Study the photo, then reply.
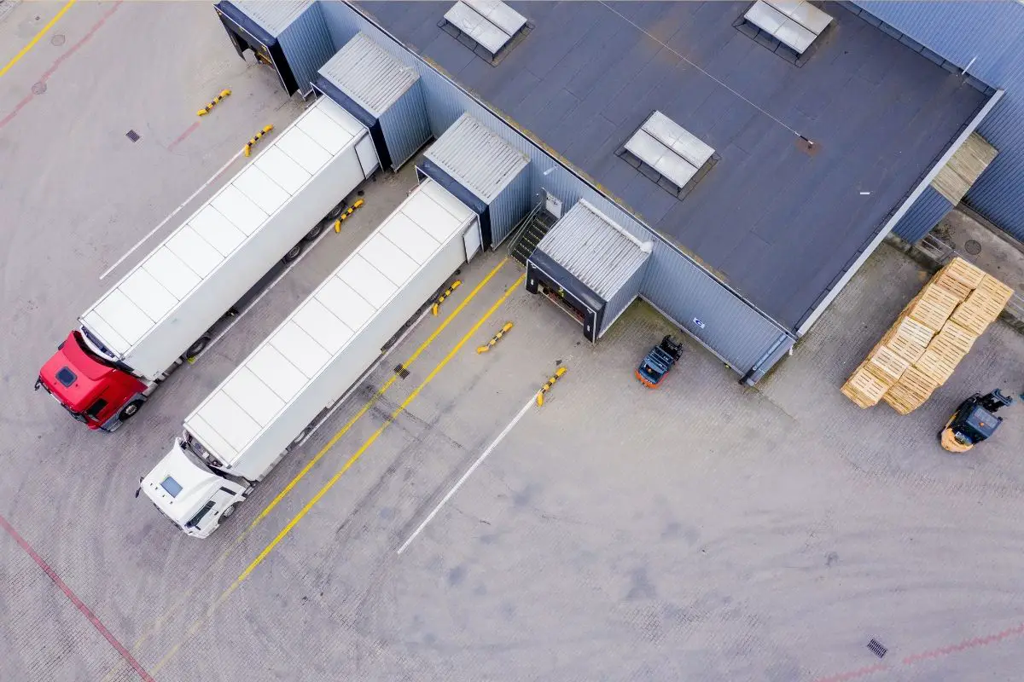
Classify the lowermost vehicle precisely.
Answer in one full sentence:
In the photo, the lowermost vehicle shows up as a truck.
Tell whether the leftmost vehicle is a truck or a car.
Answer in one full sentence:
What you see as the leftmost vehicle is a truck.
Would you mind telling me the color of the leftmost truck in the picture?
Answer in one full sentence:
The color of the leftmost truck is red.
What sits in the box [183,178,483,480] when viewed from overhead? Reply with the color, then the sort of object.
white trailer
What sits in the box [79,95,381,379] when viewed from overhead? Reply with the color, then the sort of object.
white trailer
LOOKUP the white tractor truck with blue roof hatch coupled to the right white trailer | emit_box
[134,430,307,539]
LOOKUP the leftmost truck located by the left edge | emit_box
[32,328,206,434]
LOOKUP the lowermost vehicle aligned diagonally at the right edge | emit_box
[935,383,1018,457]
